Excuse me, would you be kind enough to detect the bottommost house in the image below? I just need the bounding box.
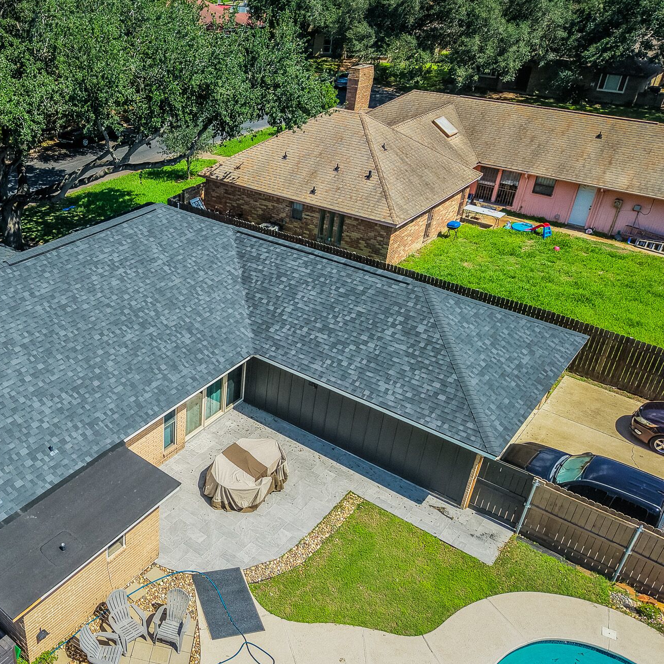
[0,201,592,663]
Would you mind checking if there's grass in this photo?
Yes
